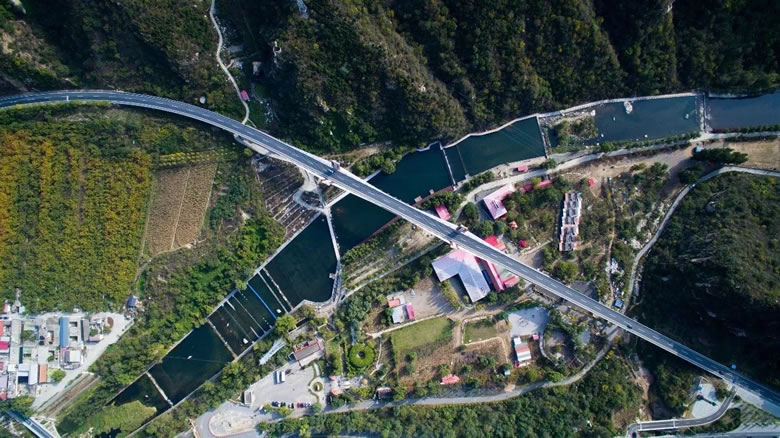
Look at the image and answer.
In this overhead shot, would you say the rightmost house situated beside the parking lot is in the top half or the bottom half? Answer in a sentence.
The rightmost house situated beside the parking lot sits in the bottom half of the picture.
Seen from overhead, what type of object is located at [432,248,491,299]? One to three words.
building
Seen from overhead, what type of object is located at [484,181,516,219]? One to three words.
building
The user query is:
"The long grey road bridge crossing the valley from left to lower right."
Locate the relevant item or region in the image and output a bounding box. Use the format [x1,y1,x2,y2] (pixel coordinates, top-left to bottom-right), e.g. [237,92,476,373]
[110,90,726,377]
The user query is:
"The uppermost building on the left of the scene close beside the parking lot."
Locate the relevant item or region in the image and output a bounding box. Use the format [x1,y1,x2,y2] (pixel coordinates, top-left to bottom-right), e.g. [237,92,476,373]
[292,336,327,365]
